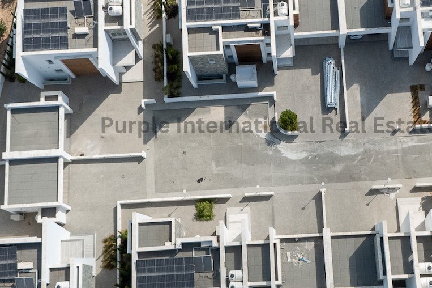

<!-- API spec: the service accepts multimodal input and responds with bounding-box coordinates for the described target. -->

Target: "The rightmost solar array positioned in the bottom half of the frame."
[140,256,194,288]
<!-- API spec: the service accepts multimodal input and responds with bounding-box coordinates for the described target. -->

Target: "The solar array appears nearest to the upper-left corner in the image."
[23,4,69,52]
